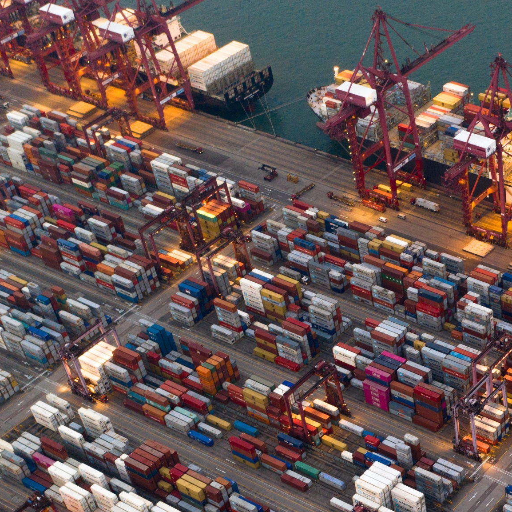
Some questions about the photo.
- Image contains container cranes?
Yes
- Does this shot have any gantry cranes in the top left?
Yes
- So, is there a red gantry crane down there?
Yes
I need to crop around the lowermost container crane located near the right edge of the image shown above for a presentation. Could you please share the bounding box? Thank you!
[452,375,504,458]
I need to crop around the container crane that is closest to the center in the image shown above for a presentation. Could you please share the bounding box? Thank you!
[192,228,252,300]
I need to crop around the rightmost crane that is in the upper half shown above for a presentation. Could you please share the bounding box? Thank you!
[426,56,512,249]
